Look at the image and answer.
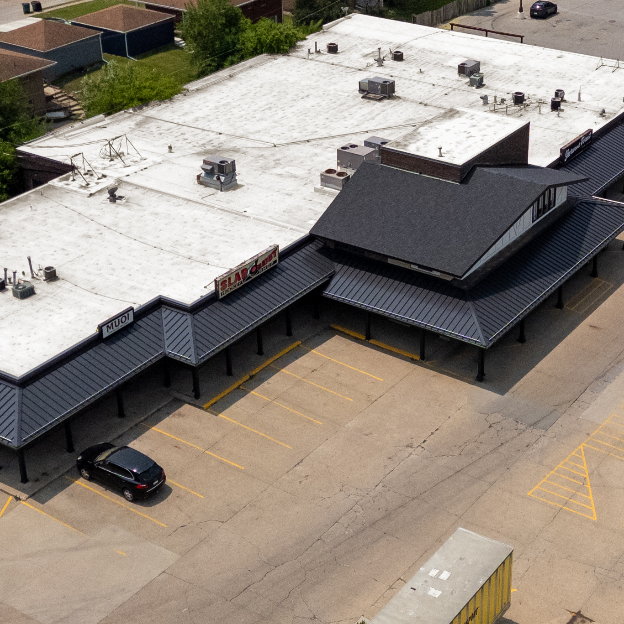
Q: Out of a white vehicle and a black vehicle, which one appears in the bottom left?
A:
black vehicle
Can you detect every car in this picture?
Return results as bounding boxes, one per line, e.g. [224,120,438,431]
[529,0,561,19]
[72,441,167,500]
